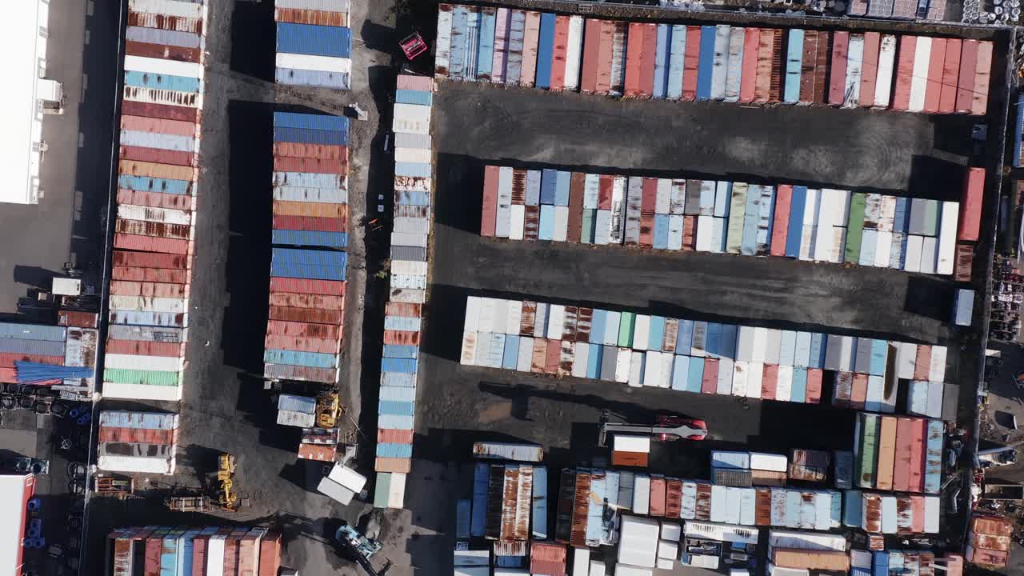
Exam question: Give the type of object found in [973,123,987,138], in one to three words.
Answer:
vehicle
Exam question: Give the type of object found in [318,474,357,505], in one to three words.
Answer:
shipping container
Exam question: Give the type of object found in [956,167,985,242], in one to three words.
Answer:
shipping container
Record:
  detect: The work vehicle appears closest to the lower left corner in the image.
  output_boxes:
[215,454,238,509]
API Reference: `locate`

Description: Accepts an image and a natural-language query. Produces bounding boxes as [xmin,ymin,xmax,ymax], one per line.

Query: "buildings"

[0,0,52,205]
[0,471,37,576]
